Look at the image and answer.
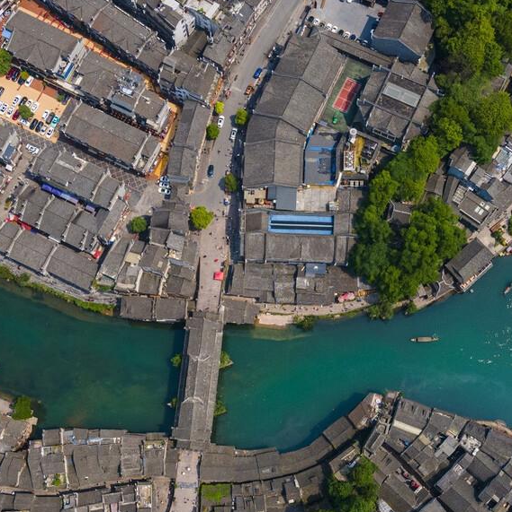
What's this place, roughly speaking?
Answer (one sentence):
What you see here is a residential area.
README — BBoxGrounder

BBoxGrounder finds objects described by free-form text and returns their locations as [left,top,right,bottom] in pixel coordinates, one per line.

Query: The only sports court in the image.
[318,57,369,127]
